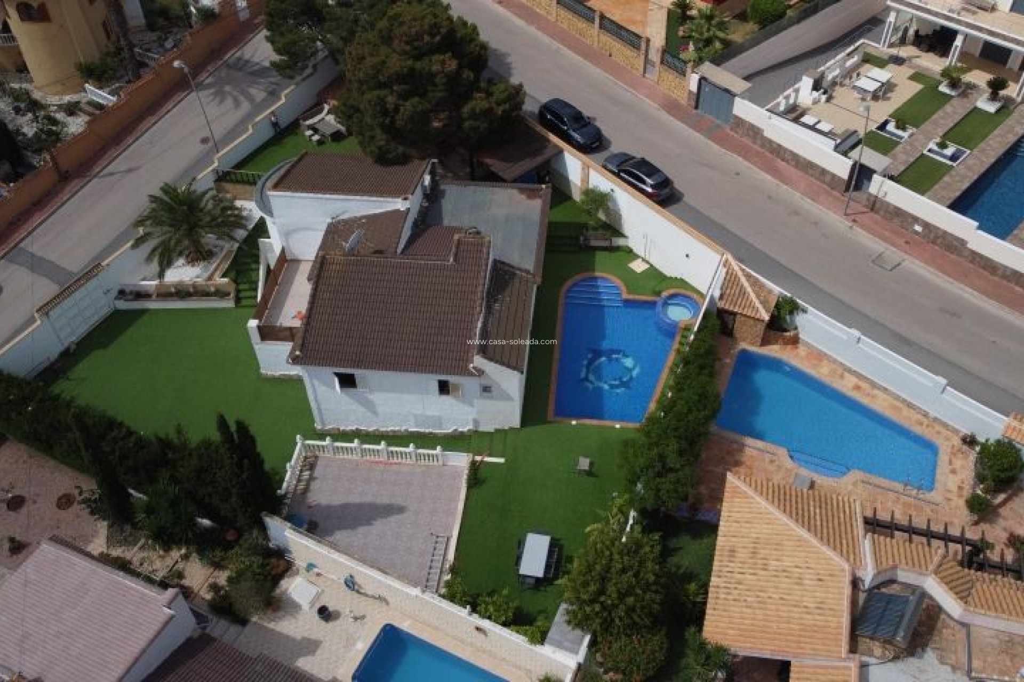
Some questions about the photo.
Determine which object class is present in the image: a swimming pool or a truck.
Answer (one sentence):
There is a swimming pool in the scene.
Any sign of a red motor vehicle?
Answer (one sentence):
No, this view has no red motor vehicle in it.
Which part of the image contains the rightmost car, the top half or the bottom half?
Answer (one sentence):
The rightmost car sits in the top half of the picture.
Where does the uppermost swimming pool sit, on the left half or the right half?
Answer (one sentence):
You can find the uppermost swimming pool on the right side of the picture.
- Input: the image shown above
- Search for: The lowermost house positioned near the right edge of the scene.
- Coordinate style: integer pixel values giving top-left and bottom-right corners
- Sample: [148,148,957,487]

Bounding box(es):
[703,471,1024,682]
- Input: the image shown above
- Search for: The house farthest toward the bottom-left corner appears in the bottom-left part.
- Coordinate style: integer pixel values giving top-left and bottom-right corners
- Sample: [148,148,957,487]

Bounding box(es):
[0,534,188,682]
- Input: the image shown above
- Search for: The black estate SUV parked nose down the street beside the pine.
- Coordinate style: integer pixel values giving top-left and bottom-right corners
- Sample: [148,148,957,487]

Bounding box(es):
[538,102,605,154]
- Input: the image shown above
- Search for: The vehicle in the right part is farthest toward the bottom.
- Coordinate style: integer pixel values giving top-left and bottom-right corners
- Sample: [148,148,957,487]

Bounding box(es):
[608,155,680,203]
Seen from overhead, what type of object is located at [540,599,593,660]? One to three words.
shed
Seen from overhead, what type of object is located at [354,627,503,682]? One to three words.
swimming pool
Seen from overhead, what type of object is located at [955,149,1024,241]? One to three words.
swimming pool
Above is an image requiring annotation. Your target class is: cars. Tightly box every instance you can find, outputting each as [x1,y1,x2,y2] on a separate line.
[538,102,605,154]
[608,155,680,203]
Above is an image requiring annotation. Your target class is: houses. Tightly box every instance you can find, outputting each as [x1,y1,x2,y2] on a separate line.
[703,471,1024,682]
[243,154,550,426]
[0,534,188,682]
[878,0,1024,98]
[0,0,148,84]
